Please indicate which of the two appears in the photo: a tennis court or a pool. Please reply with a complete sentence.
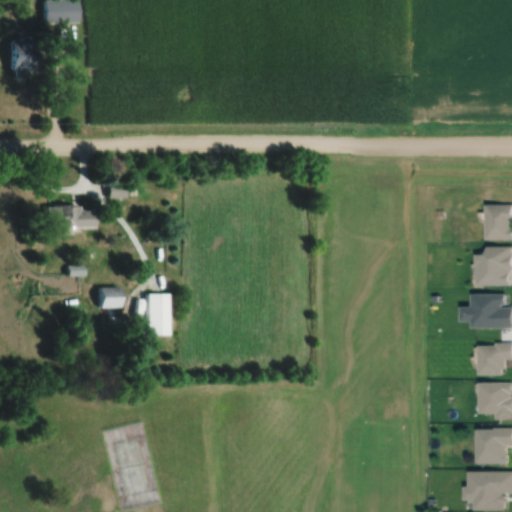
The one in the frame is a tennis court.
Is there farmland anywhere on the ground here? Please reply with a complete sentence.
Yes, the picture does contain farmland.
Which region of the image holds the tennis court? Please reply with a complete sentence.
The tennis court is in the bottom left part of the image.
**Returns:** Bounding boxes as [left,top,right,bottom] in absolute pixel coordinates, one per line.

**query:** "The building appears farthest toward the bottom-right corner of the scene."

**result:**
[460,472,512,510]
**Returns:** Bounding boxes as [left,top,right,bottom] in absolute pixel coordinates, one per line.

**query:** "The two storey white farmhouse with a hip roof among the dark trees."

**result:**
[13,42,38,80]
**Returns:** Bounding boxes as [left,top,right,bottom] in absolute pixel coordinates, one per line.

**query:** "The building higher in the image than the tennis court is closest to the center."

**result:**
[148,294,172,337]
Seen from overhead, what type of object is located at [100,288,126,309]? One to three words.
barn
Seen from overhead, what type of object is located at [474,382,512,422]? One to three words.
house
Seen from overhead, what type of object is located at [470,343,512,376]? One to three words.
house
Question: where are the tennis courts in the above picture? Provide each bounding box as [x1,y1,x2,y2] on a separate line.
[104,422,162,510]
